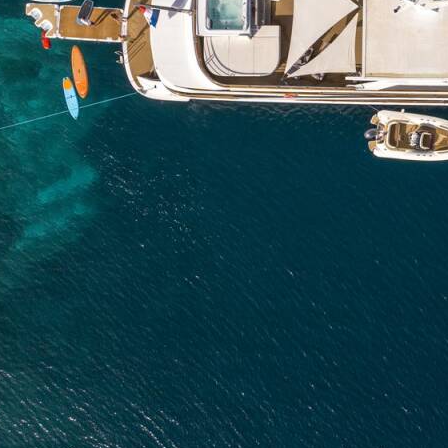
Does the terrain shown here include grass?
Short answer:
No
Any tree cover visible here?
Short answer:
No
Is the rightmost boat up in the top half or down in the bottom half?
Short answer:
top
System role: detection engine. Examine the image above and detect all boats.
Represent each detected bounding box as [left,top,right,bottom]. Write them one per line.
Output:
[109,0,448,105]
[364,110,448,161]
